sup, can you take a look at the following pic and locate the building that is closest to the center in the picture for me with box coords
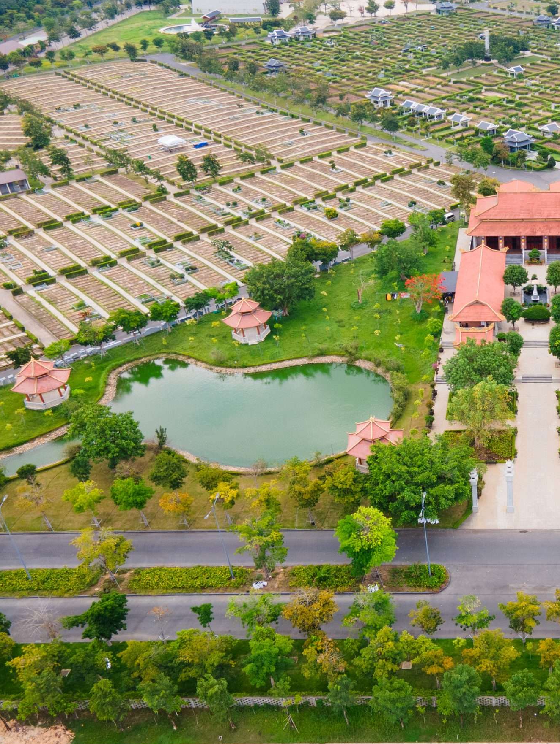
[218,294,277,342]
